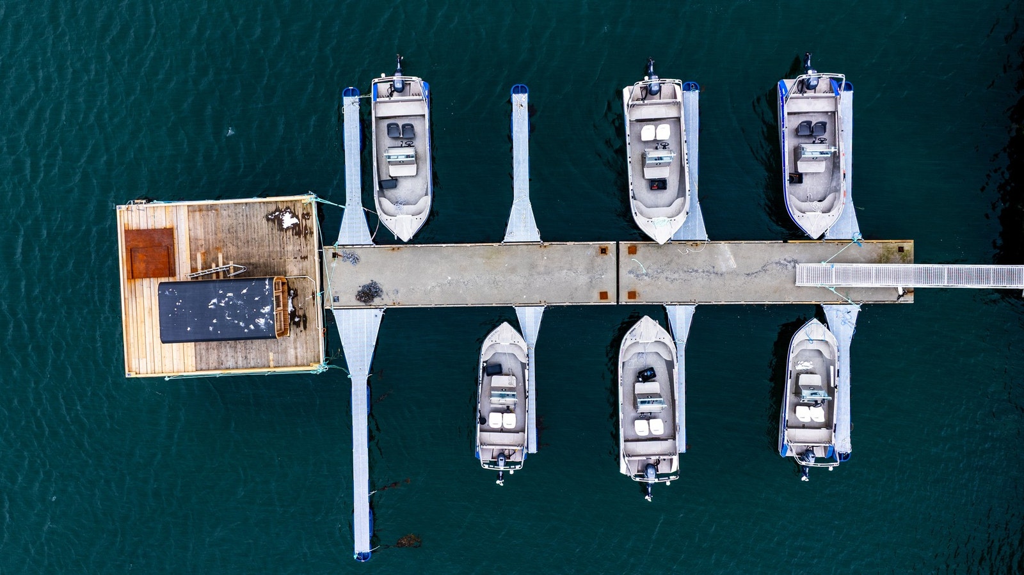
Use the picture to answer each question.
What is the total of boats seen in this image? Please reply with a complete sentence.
The photo contains 6 boats.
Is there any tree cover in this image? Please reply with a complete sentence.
No, no tree cover is visible.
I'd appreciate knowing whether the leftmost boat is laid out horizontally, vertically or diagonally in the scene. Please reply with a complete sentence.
What the image shows is the leftmost boat lying vertically.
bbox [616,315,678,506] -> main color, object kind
white boat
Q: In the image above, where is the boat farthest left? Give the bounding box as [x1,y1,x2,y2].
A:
[373,51,435,242]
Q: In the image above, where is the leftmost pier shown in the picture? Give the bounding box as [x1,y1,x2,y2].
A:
[324,240,623,311]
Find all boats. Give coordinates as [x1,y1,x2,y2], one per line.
[779,318,837,487]
[623,54,686,245]
[477,322,529,493]
[778,47,845,240]
[616,315,678,506]
[373,51,435,242]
